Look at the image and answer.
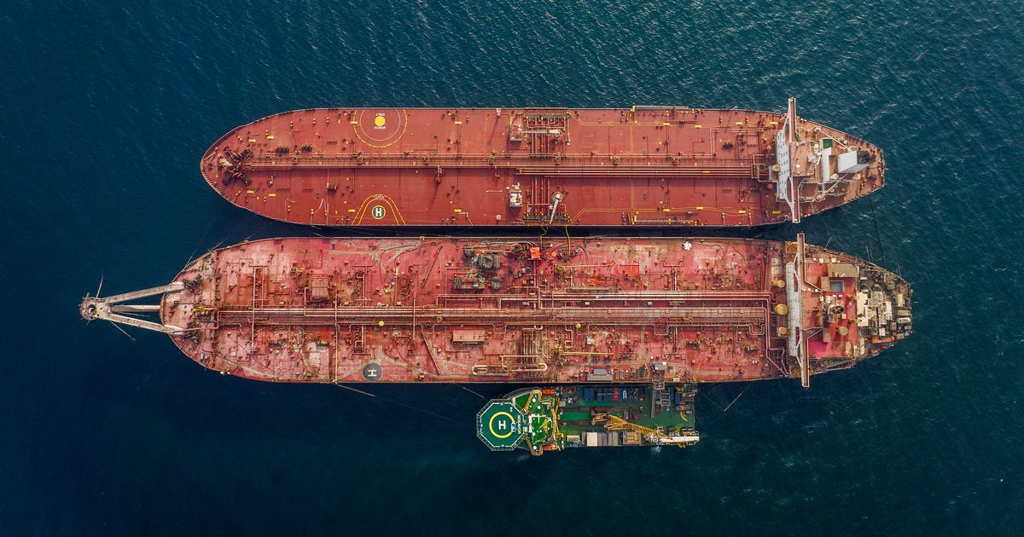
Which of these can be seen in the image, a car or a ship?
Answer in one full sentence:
It is a ship that can be seen here.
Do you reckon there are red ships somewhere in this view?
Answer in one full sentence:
Yes, I can see a red ship in this picture.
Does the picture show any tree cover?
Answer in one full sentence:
No, no tree cover is visible.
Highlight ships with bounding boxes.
[77,231,916,411]
[476,383,699,455]
[198,97,892,229]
